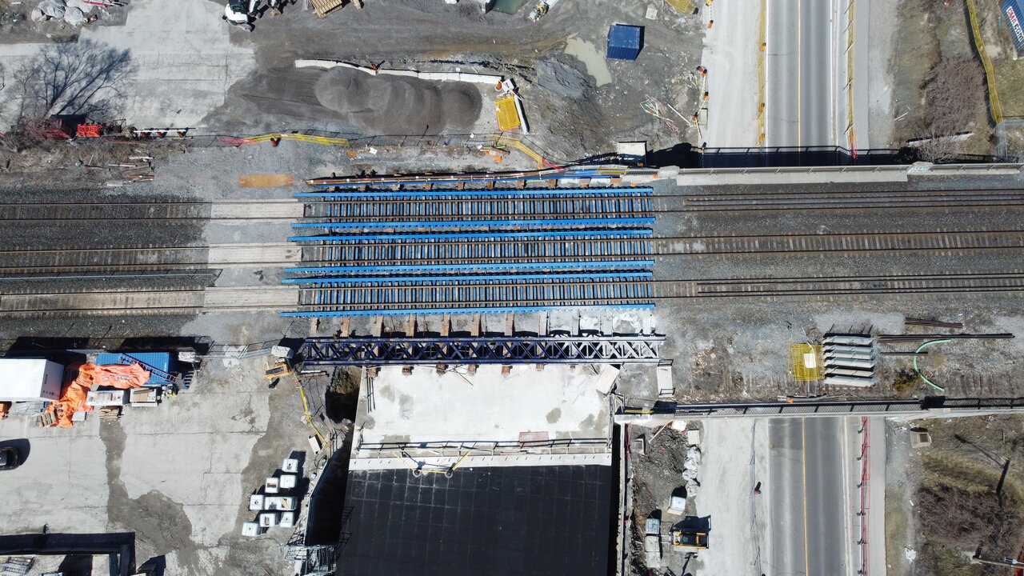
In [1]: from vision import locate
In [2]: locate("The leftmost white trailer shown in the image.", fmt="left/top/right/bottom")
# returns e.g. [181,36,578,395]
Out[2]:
[0,360,60,405]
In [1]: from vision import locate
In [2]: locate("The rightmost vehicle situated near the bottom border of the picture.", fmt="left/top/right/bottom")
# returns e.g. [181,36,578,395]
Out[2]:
[672,523,716,548]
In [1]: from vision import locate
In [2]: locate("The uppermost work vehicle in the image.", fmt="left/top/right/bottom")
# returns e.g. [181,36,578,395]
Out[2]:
[219,0,261,32]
